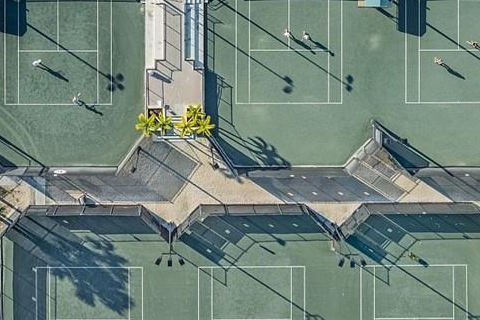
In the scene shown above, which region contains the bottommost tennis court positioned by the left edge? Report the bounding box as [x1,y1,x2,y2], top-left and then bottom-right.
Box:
[1,214,171,320]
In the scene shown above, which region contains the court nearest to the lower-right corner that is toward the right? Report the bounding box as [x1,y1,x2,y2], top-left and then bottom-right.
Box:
[336,213,480,320]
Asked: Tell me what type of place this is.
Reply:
sports ground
